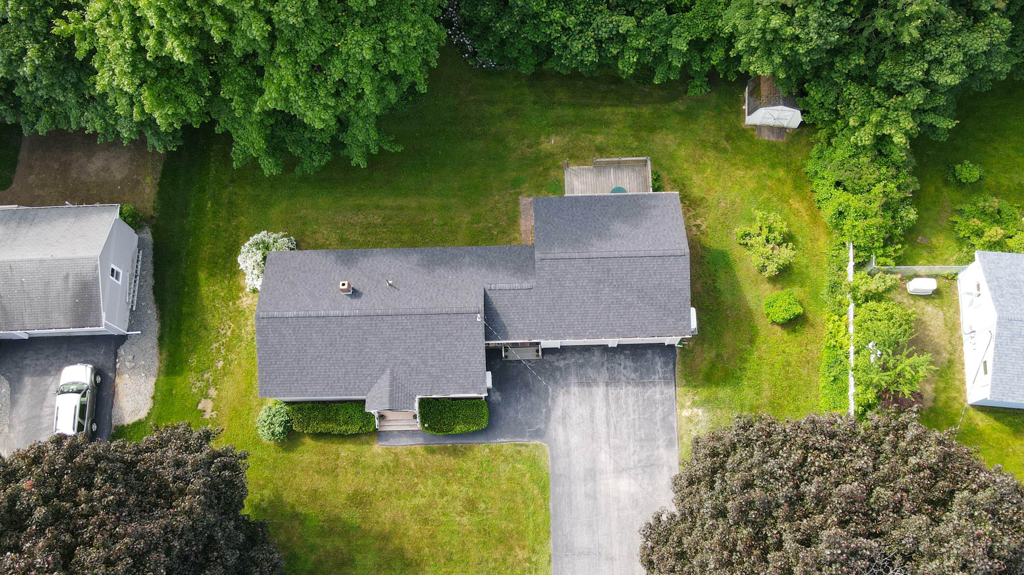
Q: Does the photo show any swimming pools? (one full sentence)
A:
No, no swimming pool is visible in the view.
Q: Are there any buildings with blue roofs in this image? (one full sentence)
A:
No, the scene contains no building with a blue roof.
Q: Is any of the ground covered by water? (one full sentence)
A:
No, there is no water in the image.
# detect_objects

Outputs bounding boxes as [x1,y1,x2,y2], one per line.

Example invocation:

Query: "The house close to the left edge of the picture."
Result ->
[0,194,143,340]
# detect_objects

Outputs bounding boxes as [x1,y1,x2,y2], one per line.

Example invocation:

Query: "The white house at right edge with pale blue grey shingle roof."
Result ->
[958,251,1024,407]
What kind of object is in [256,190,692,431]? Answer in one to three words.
house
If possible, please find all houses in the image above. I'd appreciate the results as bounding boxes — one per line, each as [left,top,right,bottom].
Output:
[958,251,1024,407]
[256,190,692,431]
[0,194,143,340]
